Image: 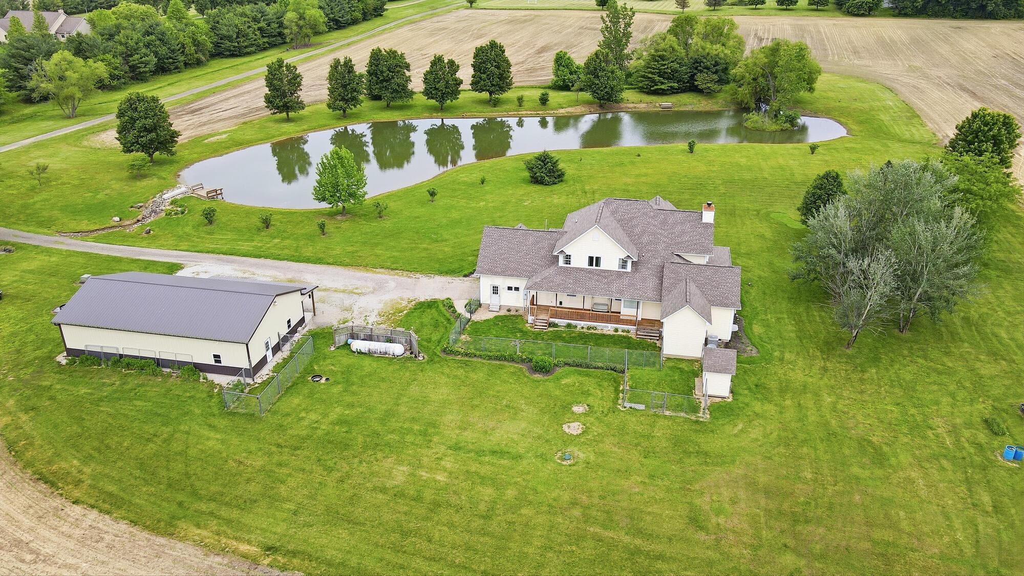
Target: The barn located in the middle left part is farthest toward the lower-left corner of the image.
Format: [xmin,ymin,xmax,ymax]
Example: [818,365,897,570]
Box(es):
[50,272,318,378]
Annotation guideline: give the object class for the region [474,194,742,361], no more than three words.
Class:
house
